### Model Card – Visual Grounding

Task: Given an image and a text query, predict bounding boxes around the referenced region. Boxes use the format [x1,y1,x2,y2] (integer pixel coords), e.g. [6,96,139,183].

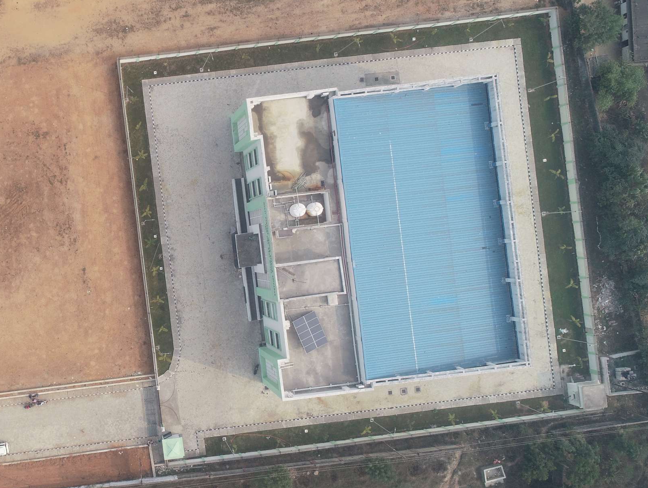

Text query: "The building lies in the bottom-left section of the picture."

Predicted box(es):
[162,427,185,461]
